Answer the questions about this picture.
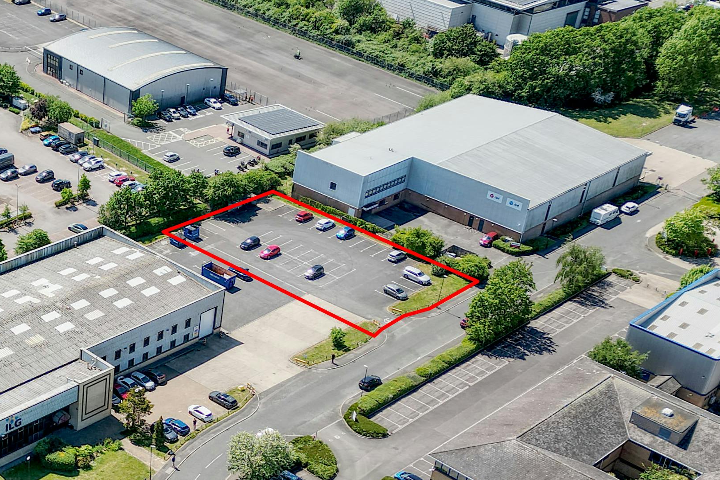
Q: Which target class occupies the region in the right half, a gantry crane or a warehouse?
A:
warehouse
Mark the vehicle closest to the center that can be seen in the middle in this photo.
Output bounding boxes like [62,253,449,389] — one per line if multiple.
[333,225,358,242]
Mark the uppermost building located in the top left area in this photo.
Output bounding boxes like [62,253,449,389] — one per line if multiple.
[42,26,229,116]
